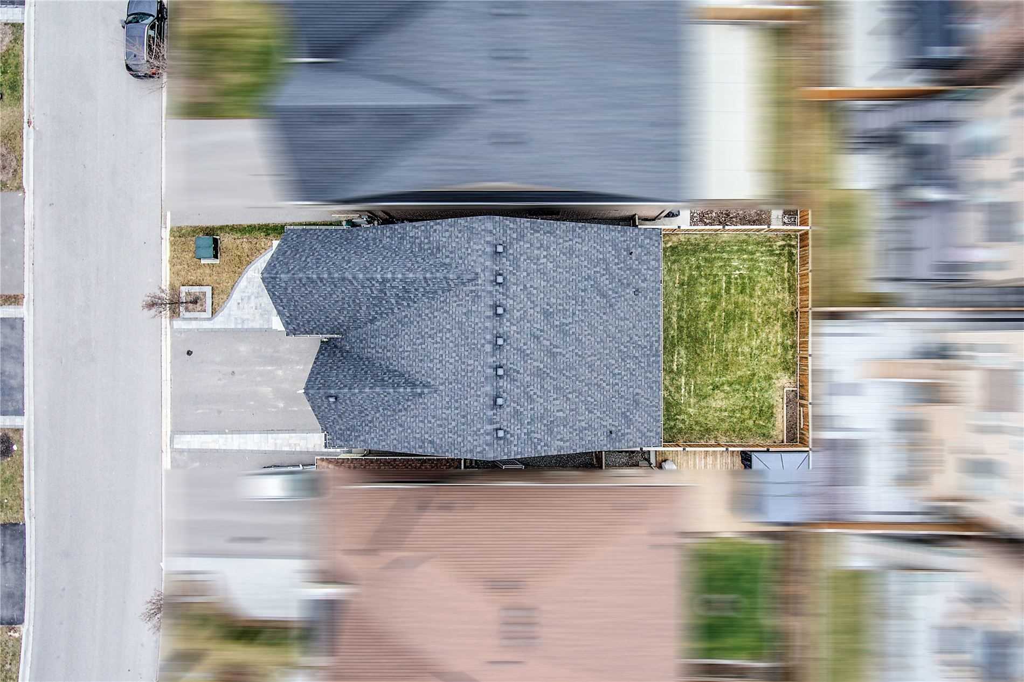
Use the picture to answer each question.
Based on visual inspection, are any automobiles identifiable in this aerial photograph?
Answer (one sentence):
Yes, you can see an automobile in this photo.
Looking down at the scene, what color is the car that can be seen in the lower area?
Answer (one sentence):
The color of the car that can be seen in the lower area is white.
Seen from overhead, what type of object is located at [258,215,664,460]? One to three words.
house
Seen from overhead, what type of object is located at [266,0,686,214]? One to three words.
house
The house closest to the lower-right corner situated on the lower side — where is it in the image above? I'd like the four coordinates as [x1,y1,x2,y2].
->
[943,538,1024,682]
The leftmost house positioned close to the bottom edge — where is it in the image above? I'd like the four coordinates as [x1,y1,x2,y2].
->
[307,455,684,682]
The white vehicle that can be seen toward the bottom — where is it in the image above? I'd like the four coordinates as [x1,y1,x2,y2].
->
[247,466,315,502]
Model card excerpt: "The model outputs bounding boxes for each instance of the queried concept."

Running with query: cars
[247,466,315,502]
[124,0,167,82]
